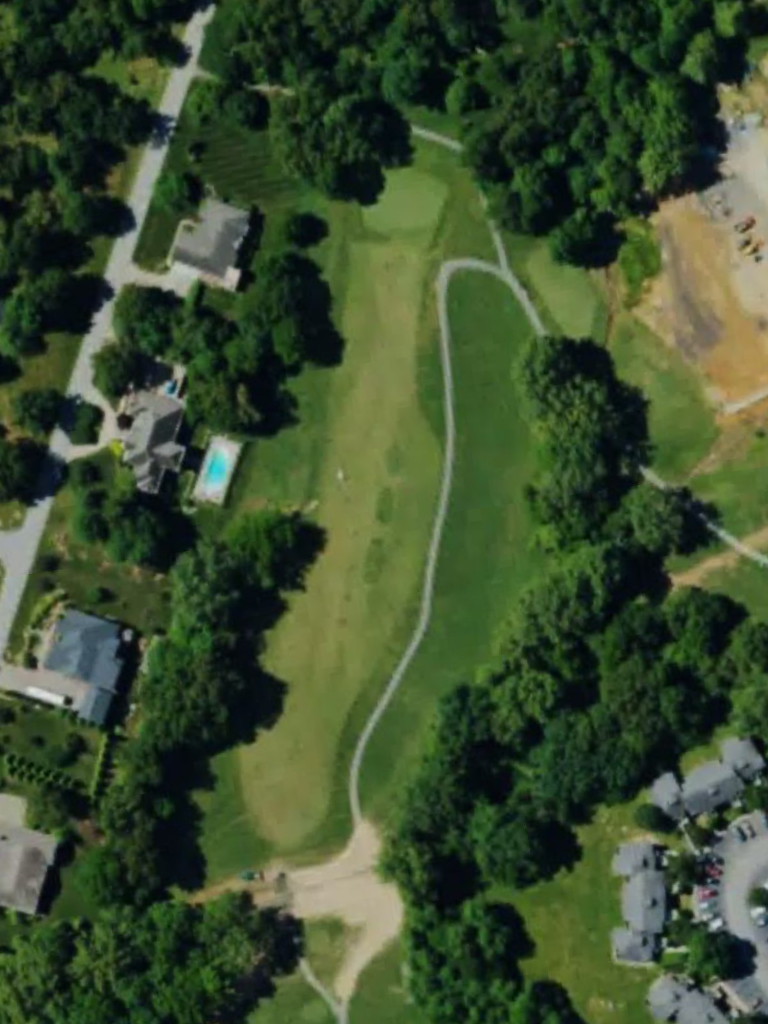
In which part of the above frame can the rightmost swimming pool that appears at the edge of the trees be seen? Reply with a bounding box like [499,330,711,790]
[192,436,242,504]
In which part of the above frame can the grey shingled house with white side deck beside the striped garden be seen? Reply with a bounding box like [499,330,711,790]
[173,199,254,277]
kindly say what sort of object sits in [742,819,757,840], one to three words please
car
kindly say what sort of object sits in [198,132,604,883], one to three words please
golf course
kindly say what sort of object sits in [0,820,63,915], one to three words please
house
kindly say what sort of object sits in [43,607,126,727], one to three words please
house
